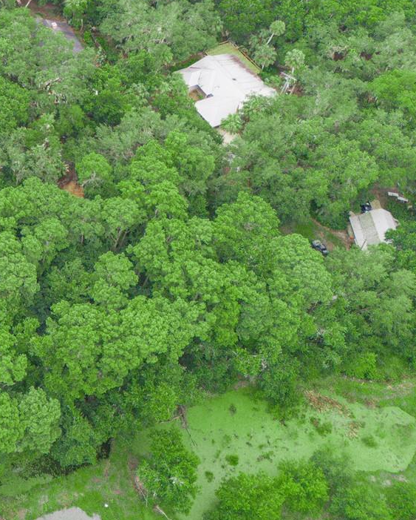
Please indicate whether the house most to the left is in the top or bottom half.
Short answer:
top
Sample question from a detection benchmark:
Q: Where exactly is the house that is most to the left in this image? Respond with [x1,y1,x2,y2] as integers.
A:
[173,53,277,133]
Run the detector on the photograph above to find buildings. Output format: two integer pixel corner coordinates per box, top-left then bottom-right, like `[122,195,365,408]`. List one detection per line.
[343,208,398,258]
[173,53,277,133]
